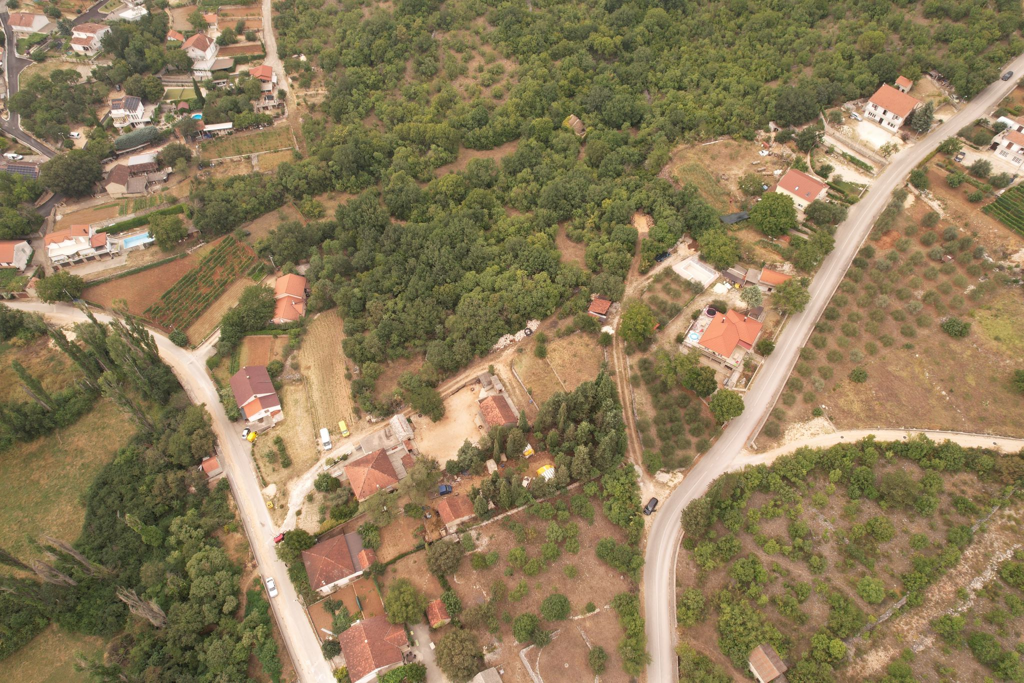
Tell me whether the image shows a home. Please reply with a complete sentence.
Yes, the photo shows a home.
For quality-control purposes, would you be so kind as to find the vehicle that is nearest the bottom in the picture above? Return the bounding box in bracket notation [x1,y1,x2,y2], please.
[264,576,278,599]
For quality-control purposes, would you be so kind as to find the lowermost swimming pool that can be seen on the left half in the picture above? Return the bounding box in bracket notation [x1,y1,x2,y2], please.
[122,231,154,249]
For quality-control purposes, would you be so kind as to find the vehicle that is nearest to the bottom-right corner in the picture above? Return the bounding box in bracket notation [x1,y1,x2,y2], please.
[642,496,660,517]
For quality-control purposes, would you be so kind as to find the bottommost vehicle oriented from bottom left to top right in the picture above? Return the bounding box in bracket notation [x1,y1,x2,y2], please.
[270,529,288,547]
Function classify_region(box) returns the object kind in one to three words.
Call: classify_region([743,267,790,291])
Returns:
shed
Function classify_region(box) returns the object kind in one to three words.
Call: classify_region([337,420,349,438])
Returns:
vehicle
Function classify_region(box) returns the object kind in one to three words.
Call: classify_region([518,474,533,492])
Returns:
vehicle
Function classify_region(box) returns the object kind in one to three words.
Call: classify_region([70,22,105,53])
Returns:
house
